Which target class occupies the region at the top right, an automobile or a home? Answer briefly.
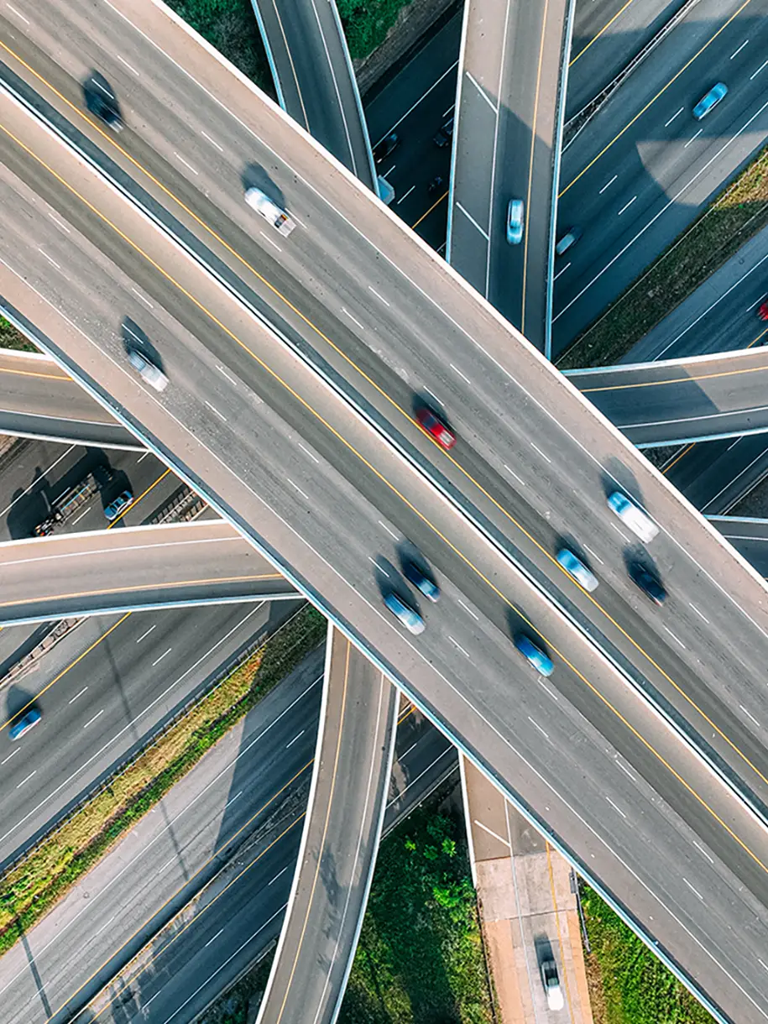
automobile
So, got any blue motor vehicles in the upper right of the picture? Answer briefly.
Yes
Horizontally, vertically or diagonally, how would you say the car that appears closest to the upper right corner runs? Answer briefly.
diagonally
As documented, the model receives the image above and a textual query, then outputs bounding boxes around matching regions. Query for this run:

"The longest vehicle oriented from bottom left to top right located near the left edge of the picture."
[11,456,118,541]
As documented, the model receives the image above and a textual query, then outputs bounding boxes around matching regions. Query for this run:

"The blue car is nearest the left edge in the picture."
[5,705,43,742]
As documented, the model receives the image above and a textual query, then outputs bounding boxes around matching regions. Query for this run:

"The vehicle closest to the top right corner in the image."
[692,83,728,119]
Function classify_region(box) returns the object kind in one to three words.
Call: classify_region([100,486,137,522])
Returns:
car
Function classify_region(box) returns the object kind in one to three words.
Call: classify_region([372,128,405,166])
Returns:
car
